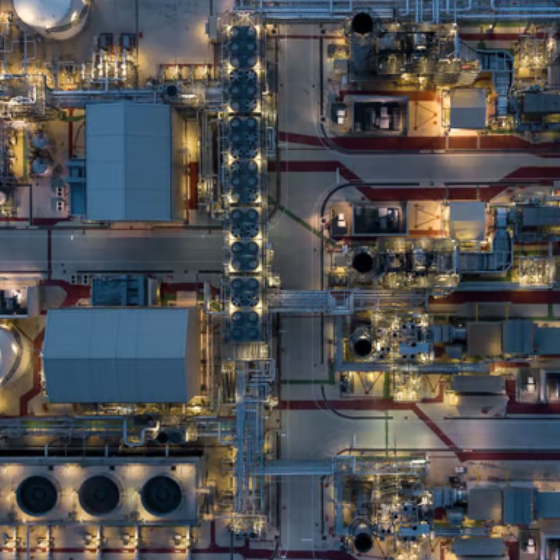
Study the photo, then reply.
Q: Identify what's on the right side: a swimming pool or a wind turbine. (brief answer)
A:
wind turbine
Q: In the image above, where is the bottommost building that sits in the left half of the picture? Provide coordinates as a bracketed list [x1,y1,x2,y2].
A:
[40,309,203,408]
